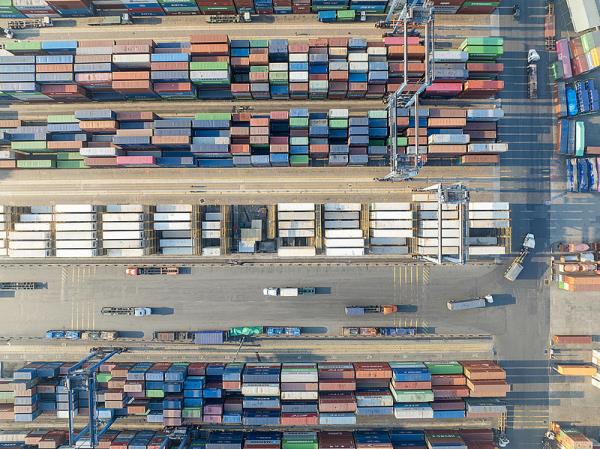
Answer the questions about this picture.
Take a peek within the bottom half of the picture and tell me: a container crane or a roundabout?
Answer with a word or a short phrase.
container crane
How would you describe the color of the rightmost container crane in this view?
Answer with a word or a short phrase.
white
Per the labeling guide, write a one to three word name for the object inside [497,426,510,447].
vehicle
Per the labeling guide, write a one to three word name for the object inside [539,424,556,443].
vehicle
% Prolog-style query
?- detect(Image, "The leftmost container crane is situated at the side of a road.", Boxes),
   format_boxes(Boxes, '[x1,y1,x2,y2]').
[67,347,130,449]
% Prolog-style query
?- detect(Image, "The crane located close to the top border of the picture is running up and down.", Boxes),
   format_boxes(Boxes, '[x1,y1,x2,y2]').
[381,0,431,107]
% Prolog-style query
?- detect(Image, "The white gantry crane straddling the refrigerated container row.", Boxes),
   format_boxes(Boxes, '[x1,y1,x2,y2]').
[411,182,466,265]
